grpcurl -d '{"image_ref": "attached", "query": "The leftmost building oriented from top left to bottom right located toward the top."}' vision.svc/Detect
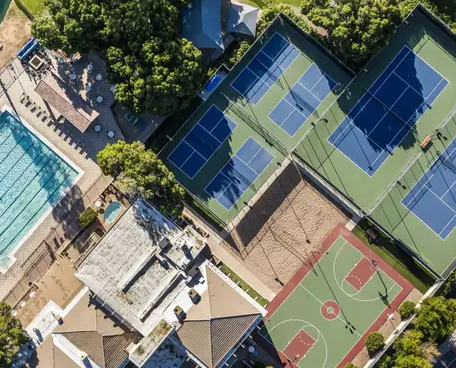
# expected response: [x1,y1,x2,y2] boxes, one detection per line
[35,72,100,133]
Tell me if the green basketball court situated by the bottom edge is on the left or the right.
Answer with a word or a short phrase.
right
